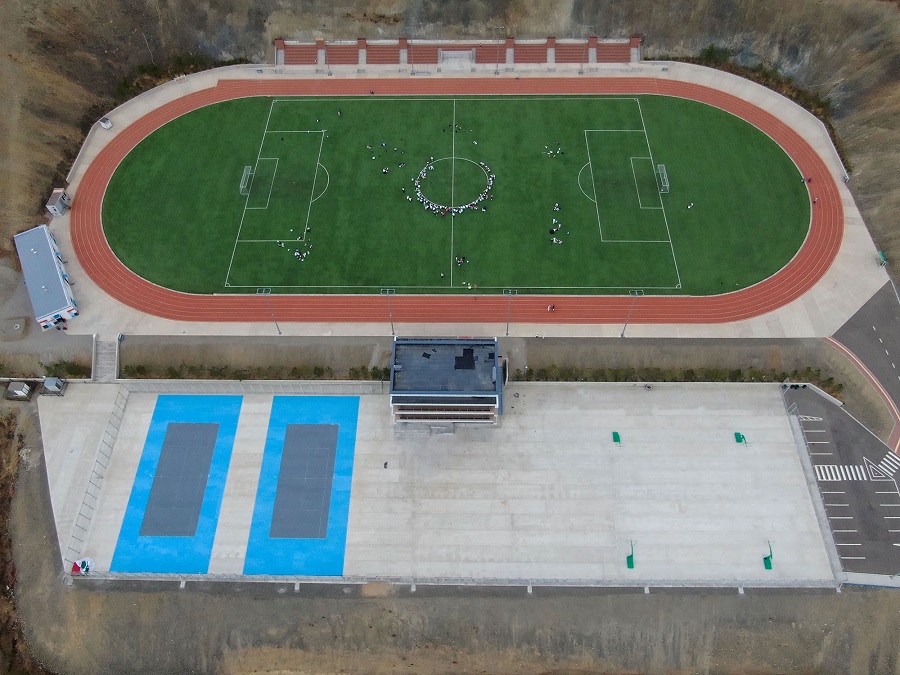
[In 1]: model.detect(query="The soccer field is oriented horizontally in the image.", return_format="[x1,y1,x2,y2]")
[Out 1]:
[101,94,811,294]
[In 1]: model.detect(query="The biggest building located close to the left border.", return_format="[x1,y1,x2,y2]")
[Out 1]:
[12,225,77,325]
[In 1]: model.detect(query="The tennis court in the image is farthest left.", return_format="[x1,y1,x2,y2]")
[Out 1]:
[110,396,243,573]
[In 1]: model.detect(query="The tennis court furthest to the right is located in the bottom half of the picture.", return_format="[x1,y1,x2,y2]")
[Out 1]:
[243,396,360,576]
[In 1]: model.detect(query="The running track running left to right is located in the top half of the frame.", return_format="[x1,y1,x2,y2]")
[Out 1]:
[69,77,846,323]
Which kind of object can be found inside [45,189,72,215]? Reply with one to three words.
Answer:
building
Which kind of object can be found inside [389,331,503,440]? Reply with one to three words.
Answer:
building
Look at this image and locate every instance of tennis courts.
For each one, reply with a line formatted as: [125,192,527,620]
[243,396,360,576]
[110,396,243,573]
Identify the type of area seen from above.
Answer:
sports ground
